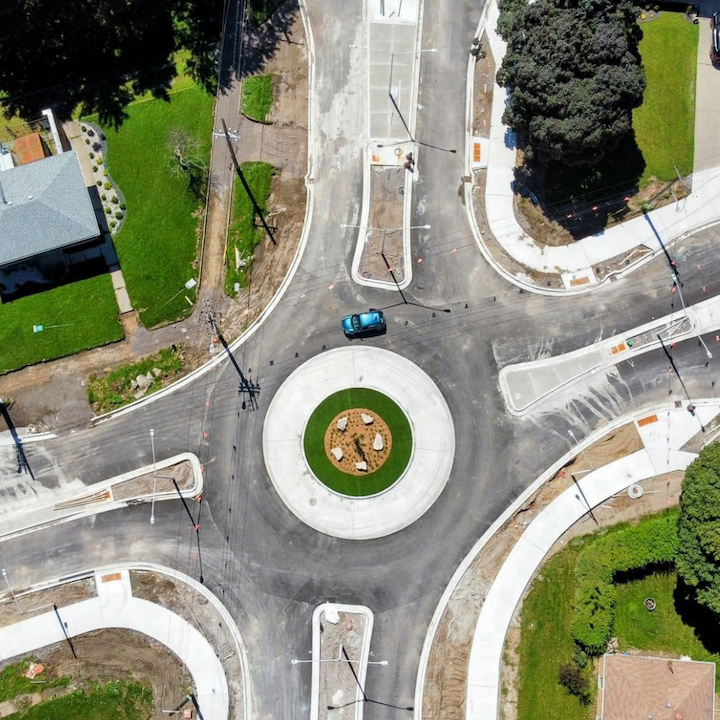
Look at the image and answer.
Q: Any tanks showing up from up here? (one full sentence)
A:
No, there appears to be no tank in this shot.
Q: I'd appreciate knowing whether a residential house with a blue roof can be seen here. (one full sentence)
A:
No, I can see no residential house with a blue roof in this picture.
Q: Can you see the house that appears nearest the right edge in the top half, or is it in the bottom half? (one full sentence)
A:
The house that appears nearest the right edge sits in the bottom half of the picture.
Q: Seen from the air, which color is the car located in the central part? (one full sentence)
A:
The car located in the central part is blue.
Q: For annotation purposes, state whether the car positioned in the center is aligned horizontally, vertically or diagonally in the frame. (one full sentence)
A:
In this picture, the car positioned in the center is oriented horizontally.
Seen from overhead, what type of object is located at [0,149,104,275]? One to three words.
house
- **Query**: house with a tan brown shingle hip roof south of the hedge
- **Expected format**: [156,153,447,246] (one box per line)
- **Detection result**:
[598,652,716,720]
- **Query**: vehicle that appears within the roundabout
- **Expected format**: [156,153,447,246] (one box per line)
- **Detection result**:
[343,315,386,335]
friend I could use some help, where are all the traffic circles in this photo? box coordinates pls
[221,307,499,585]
